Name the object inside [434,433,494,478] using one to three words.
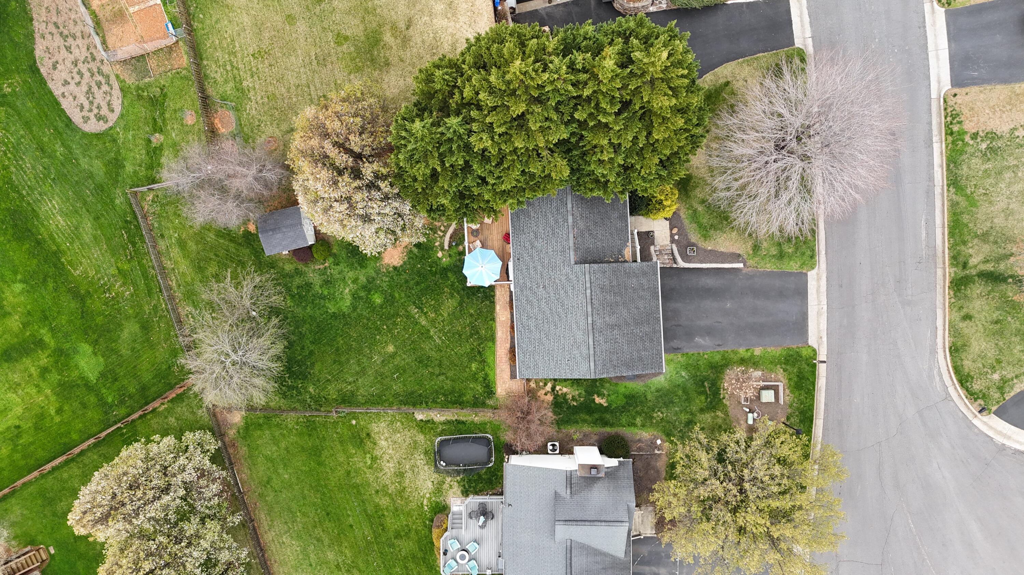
trampoline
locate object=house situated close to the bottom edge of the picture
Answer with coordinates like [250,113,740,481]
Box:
[499,445,635,575]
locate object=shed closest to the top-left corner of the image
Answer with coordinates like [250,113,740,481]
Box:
[257,205,316,255]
